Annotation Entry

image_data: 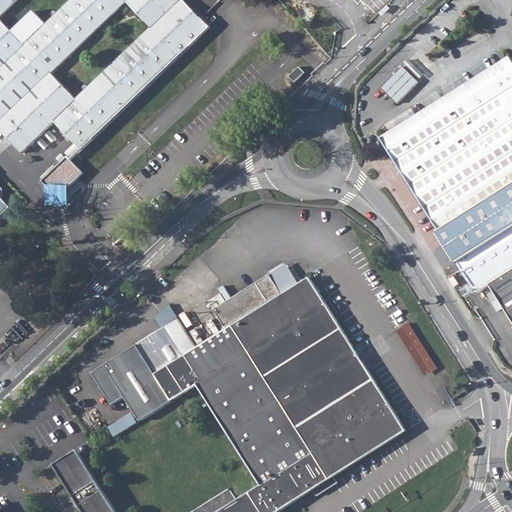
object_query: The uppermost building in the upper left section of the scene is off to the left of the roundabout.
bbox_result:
[0,0,211,158]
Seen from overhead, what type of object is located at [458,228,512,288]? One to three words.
building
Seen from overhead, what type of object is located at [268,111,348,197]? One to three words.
roundabout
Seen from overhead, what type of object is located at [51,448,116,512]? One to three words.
building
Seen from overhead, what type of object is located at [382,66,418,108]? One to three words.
shed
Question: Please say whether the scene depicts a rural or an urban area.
urban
